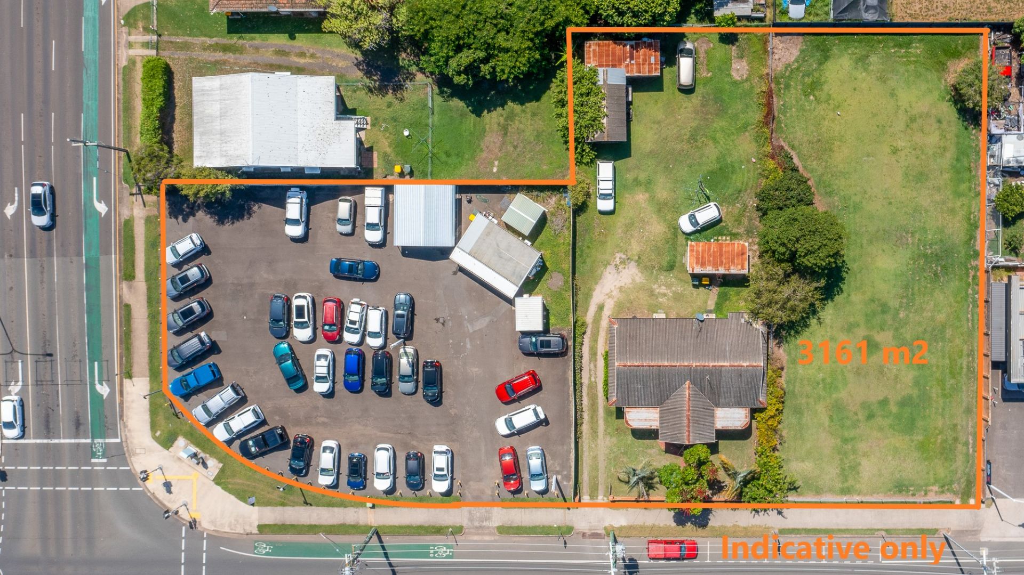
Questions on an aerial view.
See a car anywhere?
Yes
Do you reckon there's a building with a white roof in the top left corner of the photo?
Yes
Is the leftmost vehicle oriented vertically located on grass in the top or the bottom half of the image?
top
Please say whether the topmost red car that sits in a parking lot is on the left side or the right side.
left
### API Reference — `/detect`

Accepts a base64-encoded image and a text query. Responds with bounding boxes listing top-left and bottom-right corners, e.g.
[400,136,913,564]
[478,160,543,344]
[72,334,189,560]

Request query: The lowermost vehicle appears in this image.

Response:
[648,538,697,562]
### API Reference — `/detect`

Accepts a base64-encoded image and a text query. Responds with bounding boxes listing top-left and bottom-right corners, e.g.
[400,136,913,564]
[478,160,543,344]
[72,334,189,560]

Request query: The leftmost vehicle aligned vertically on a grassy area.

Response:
[594,161,618,213]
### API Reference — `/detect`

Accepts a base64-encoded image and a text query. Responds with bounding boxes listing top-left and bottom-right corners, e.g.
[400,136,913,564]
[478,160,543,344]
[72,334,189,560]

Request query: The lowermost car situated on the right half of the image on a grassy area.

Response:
[678,200,722,233]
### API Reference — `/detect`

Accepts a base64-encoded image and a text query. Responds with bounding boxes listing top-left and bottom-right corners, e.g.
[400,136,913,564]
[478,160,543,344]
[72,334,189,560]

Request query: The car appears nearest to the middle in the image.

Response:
[518,332,567,355]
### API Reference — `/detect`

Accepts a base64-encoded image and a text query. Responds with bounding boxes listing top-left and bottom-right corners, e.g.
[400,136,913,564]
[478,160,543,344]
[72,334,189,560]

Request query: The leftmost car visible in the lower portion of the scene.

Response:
[1,395,25,438]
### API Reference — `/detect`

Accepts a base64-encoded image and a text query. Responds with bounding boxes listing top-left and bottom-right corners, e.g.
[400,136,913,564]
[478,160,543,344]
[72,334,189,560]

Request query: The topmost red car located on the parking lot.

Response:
[319,298,342,342]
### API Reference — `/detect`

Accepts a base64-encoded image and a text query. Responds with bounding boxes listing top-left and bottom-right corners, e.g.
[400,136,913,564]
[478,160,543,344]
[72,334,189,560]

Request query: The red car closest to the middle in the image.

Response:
[496,370,541,402]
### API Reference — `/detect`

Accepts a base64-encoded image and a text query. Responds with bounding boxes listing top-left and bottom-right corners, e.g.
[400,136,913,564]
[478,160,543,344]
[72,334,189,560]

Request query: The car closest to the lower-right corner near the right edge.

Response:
[1002,370,1024,393]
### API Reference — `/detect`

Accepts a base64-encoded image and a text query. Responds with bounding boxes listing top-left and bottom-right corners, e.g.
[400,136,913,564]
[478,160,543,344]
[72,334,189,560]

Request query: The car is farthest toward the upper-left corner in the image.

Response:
[30,182,55,229]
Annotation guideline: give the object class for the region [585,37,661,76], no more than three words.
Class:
shed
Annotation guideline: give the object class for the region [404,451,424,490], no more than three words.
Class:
car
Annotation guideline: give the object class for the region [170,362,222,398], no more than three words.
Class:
vehicle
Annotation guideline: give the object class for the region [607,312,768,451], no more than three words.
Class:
house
